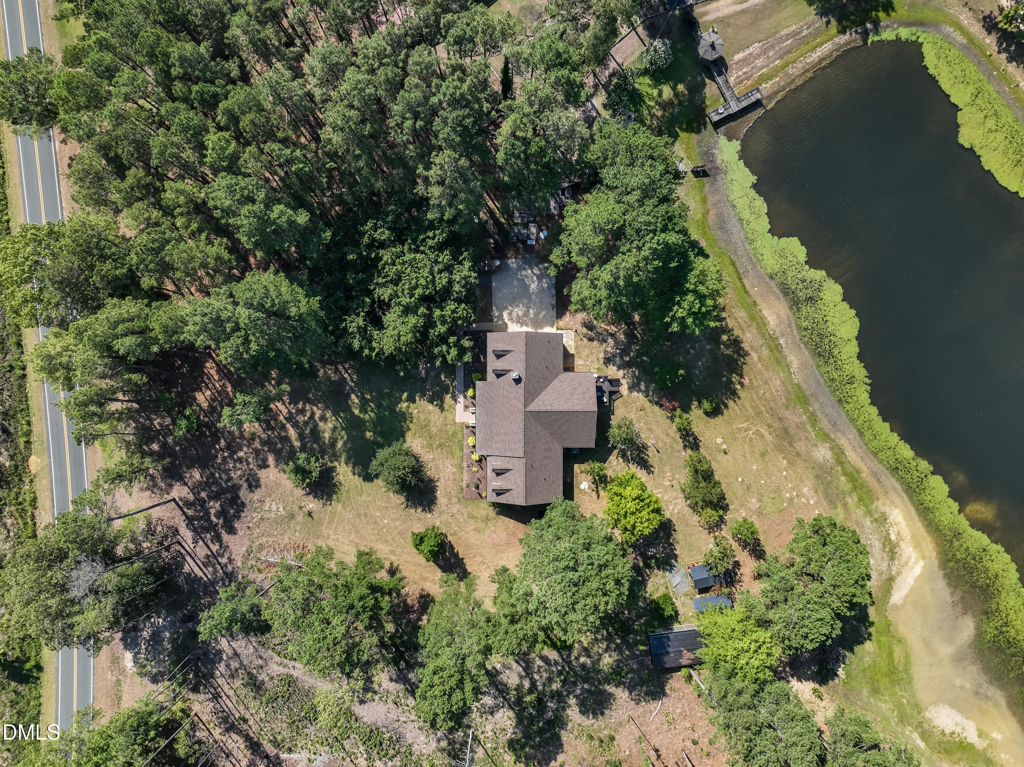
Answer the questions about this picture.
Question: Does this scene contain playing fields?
No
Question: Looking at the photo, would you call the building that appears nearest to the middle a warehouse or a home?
home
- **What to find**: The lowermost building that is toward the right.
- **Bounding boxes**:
[643,614,707,670]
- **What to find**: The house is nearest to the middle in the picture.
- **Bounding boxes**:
[470,331,598,505]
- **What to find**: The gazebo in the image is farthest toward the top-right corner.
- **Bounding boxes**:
[693,32,725,68]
